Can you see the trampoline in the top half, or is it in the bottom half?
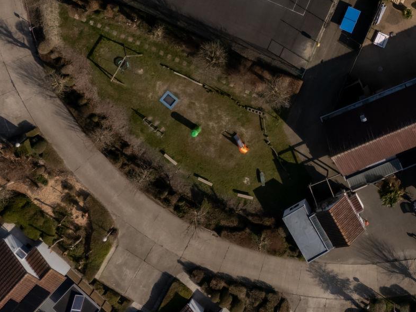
top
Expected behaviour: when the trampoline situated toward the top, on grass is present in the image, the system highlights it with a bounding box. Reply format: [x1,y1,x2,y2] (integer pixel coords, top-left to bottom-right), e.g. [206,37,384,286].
[159,90,179,110]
